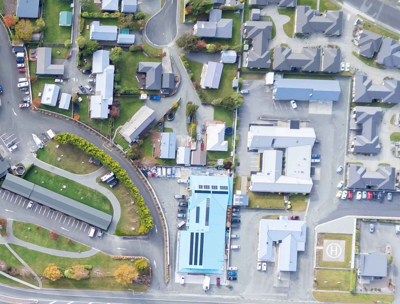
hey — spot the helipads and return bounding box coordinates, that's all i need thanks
[323,240,345,262]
